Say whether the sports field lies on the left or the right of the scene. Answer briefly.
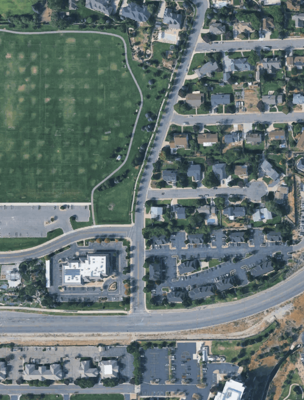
left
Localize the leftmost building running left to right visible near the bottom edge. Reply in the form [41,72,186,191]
[22,364,63,381]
